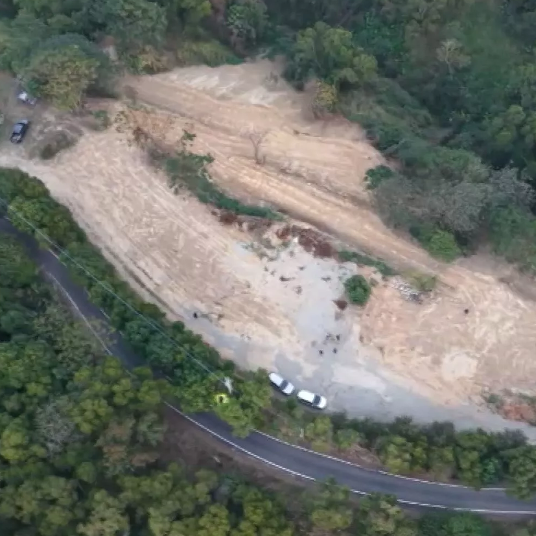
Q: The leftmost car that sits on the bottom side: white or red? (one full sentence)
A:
The leftmost car that sits on the bottom side is white.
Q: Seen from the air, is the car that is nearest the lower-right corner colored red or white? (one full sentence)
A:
The color of the car that is nearest the lower-right corner is white.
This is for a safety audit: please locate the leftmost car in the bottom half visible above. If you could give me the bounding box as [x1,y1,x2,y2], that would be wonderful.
[266,372,296,399]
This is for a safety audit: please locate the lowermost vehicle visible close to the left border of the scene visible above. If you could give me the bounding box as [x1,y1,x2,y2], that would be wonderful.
[7,121,30,145]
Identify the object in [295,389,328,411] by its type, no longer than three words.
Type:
car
